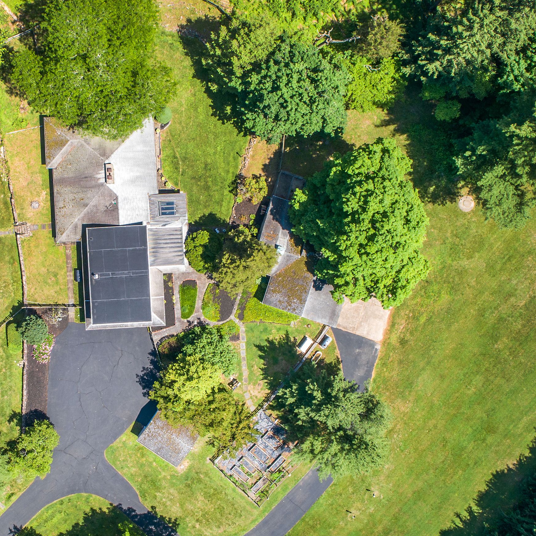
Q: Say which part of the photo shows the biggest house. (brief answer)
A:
left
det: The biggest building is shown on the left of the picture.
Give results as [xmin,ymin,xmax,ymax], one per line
[44,112,192,330]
